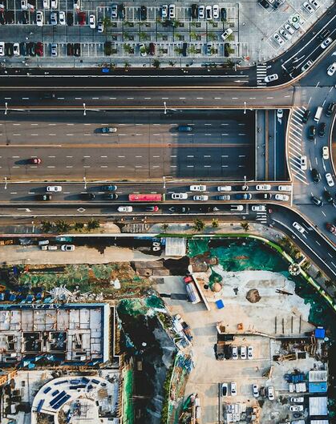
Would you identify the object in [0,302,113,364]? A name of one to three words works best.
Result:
building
